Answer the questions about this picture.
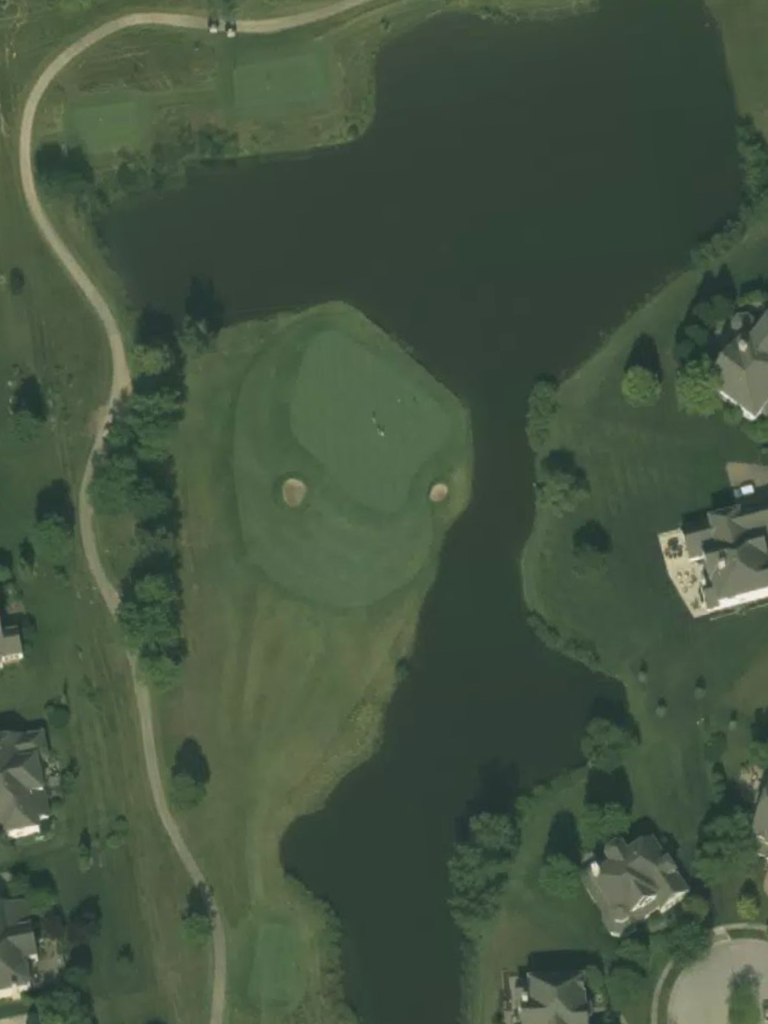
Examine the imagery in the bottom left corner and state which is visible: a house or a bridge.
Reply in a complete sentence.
You can see a house in the bottom left corner.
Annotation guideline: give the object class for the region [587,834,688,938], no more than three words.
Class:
house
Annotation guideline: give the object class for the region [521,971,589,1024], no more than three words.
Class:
house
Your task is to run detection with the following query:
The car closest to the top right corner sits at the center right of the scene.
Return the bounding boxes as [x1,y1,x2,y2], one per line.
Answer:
[734,484,757,497]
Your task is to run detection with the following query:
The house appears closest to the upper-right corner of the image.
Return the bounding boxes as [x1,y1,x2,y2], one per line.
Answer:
[717,309,768,417]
